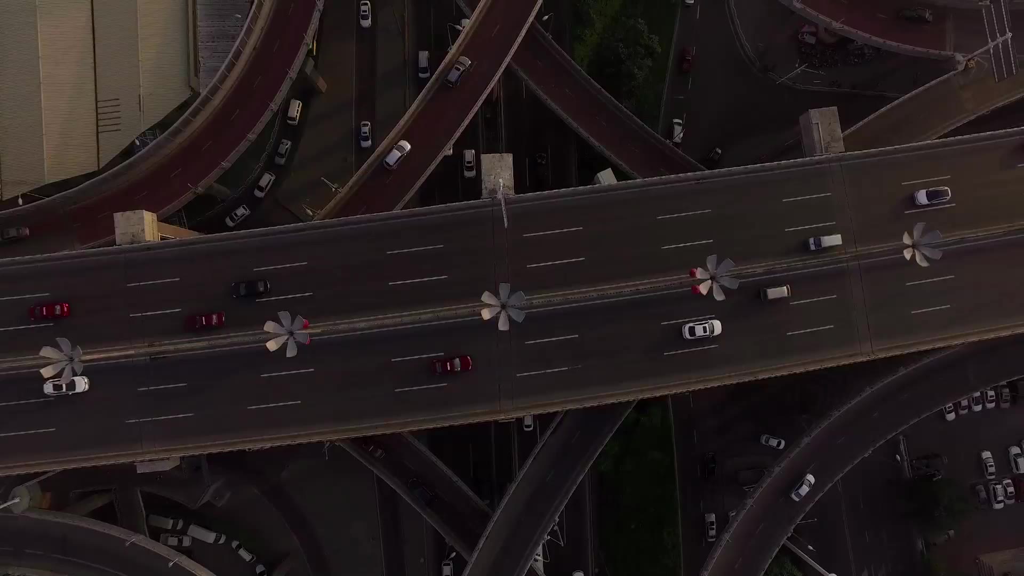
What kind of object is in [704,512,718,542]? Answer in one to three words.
car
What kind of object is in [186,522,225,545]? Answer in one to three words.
vehicle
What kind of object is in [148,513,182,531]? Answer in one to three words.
vehicle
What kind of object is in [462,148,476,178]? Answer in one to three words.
car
